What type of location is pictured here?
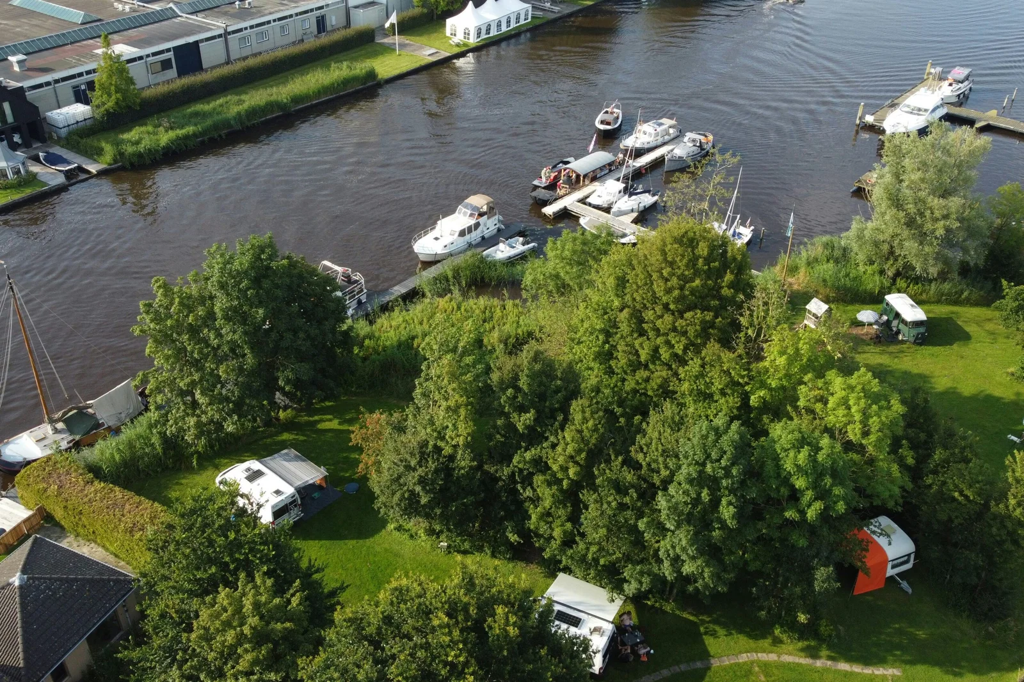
port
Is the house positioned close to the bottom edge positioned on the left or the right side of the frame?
left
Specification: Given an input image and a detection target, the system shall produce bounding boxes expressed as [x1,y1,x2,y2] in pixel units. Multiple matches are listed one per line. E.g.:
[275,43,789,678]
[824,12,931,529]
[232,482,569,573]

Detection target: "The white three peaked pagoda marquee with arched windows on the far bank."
[450,0,532,42]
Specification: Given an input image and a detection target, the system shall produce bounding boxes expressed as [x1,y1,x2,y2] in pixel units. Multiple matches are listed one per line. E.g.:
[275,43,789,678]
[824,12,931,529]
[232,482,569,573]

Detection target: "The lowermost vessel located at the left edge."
[0,285,153,478]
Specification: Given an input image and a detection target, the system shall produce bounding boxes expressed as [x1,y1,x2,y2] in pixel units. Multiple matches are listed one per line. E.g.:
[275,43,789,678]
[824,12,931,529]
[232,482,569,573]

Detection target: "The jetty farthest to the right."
[948,107,1024,136]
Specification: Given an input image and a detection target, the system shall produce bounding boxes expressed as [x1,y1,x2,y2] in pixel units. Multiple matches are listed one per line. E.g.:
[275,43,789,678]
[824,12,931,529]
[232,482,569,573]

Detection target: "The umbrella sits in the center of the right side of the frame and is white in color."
[860,306,886,333]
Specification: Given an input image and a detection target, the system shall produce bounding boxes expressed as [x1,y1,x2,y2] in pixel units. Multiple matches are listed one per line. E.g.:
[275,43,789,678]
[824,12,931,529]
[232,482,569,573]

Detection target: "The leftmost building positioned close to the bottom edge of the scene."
[0,538,134,682]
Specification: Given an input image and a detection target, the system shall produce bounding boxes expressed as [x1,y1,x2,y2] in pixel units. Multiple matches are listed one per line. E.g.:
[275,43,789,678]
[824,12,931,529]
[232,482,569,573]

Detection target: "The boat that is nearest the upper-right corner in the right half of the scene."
[943,65,980,100]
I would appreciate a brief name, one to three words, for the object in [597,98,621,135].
boat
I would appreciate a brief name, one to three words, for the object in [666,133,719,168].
boat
